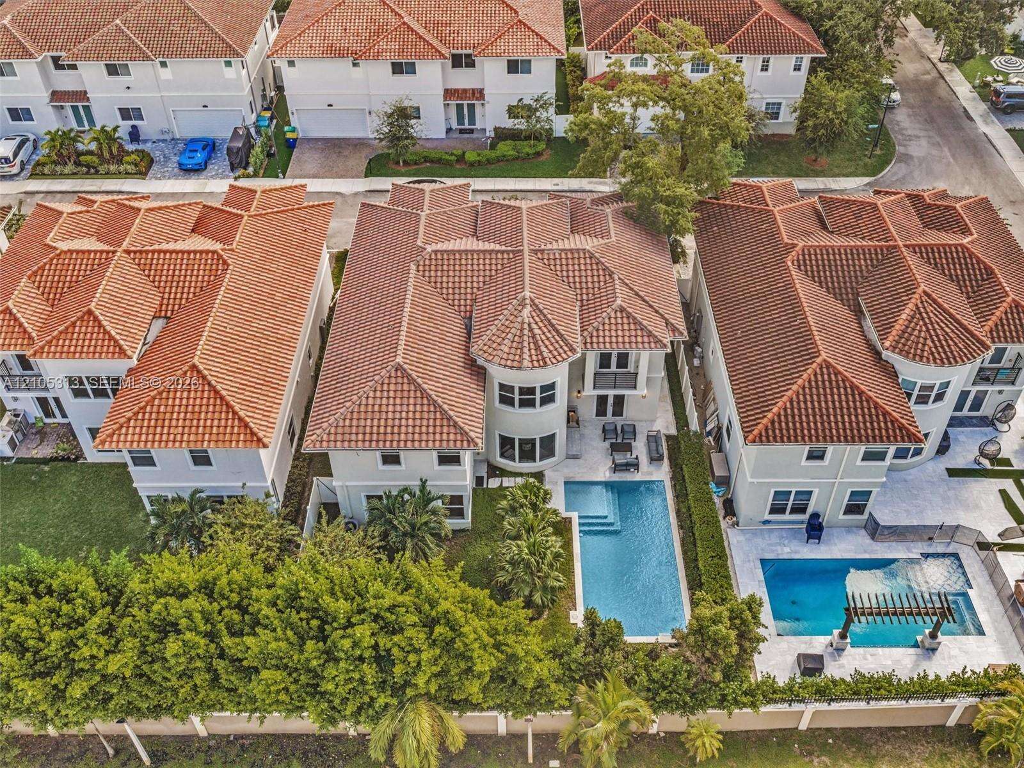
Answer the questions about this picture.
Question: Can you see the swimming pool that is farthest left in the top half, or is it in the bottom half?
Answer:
bottom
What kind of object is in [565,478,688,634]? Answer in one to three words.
swimming pool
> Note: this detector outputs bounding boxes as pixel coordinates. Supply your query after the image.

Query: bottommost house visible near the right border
[681,178,1024,528]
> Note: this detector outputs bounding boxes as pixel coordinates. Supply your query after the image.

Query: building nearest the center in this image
[302,179,691,529]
